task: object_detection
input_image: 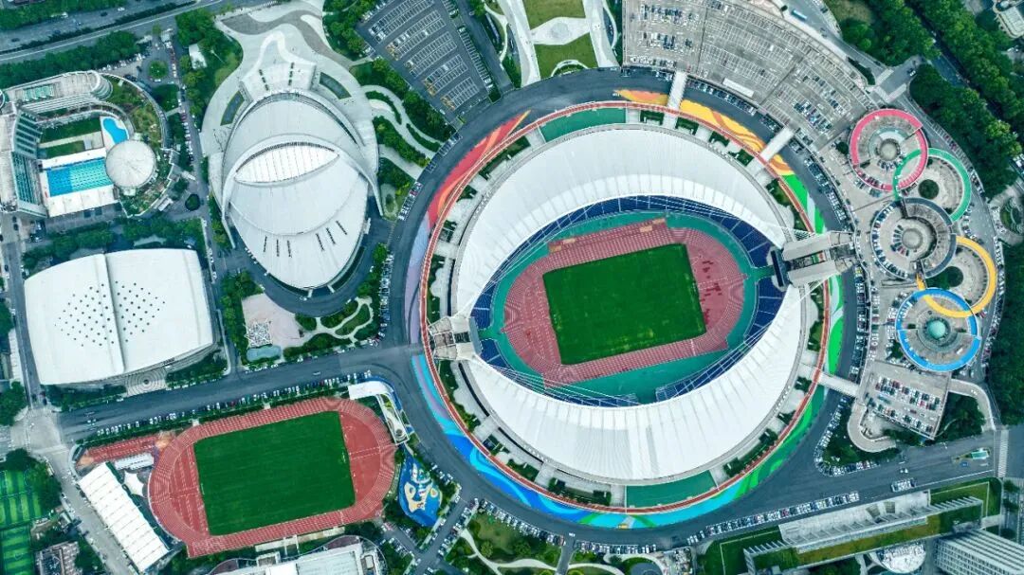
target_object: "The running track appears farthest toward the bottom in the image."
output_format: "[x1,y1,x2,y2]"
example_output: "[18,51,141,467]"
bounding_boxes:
[80,397,398,556]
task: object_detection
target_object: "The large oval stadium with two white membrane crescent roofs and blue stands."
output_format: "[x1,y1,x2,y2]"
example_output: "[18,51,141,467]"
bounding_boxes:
[422,106,853,511]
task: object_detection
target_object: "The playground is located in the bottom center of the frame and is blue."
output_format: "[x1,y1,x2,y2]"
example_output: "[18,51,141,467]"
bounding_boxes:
[399,447,442,527]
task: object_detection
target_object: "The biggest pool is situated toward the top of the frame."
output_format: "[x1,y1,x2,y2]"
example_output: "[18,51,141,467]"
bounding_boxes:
[41,148,119,219]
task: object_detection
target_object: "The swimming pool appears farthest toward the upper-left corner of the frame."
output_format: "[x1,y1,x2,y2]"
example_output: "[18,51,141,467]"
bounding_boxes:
[100,115,130,147]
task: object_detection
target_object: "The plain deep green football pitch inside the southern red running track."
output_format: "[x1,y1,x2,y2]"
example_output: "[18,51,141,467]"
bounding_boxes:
[194,411,355,536]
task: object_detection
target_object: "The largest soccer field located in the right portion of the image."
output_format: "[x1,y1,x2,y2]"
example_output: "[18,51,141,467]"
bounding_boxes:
[544,244,707,364]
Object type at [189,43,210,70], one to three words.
building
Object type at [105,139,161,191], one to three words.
building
